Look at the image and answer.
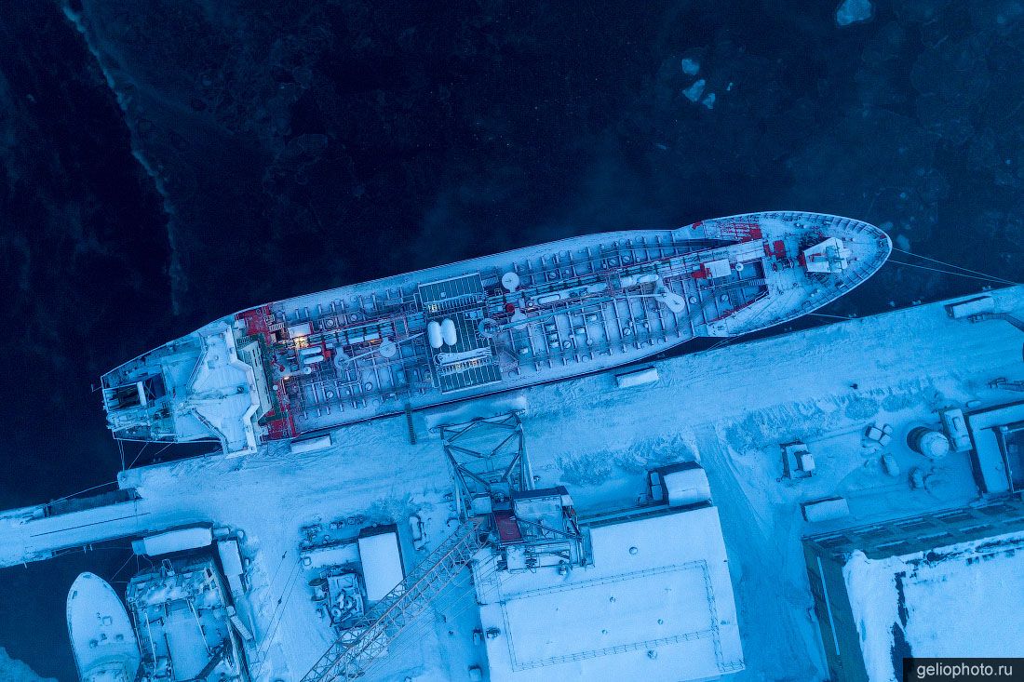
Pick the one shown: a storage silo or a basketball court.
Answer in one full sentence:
This aerial view contains a storage silo.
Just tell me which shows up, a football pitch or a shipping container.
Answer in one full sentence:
There is a shipping container in the scene.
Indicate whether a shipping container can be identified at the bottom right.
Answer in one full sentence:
Yes, you'll find a shipping container at the bottom right.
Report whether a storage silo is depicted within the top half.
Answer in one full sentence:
No, I can find no storage silo within the top half.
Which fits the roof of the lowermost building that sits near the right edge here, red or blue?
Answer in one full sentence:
In this view, the roof of the lowermost building that sits near the right edge is blue.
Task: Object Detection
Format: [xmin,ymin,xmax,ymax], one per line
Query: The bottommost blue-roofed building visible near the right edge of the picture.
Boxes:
[805,498,1024,682]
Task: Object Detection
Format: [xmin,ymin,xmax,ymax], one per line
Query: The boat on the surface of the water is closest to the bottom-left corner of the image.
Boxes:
[67,571,141,682]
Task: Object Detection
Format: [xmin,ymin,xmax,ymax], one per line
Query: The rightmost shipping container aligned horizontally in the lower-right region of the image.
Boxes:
[799,495,849,522]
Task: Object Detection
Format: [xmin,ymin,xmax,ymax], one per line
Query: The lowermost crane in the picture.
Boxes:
[283,407,593,682]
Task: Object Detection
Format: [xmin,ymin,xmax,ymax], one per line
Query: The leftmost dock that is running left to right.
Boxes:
[0,491,149,569]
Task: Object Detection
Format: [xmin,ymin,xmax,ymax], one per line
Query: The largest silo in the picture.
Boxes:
[904,427,951,460]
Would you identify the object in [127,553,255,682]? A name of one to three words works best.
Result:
ship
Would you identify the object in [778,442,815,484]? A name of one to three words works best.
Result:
trailer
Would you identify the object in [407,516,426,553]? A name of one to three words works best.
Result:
vehicle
